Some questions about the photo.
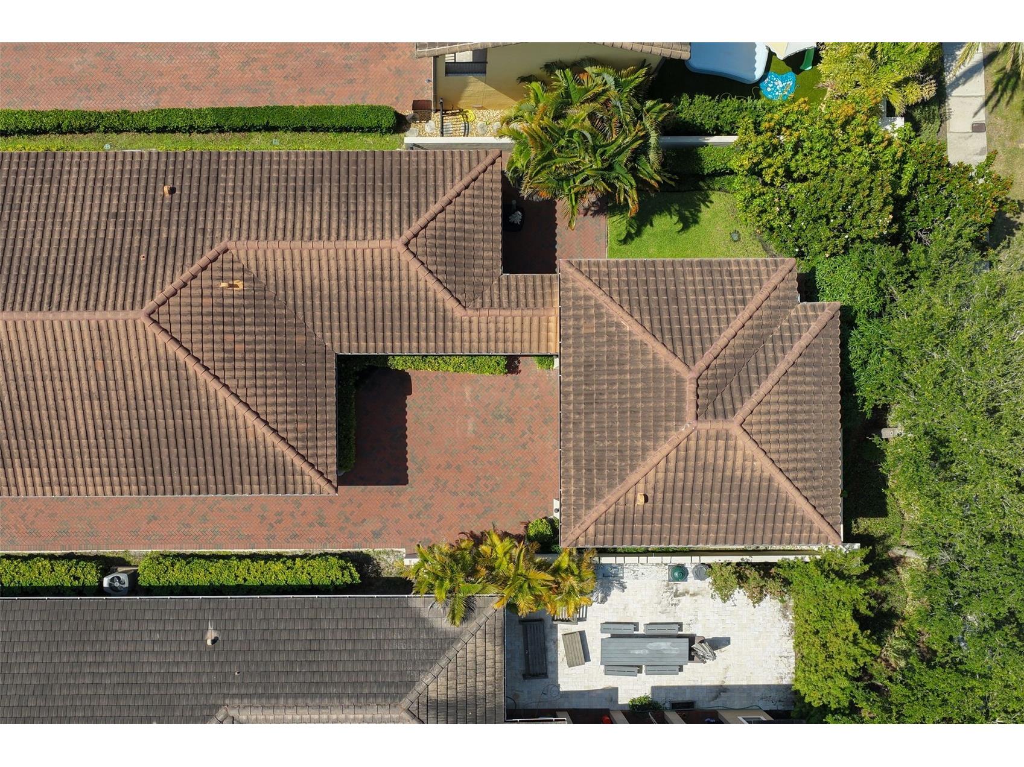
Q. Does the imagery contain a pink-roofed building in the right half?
No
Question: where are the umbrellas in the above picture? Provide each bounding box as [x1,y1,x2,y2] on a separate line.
[688,640,721,669]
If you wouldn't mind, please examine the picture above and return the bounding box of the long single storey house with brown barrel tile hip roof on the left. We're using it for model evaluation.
[0,146,557,499]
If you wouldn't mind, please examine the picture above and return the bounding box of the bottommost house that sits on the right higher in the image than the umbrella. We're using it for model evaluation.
[556,255,847,551]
